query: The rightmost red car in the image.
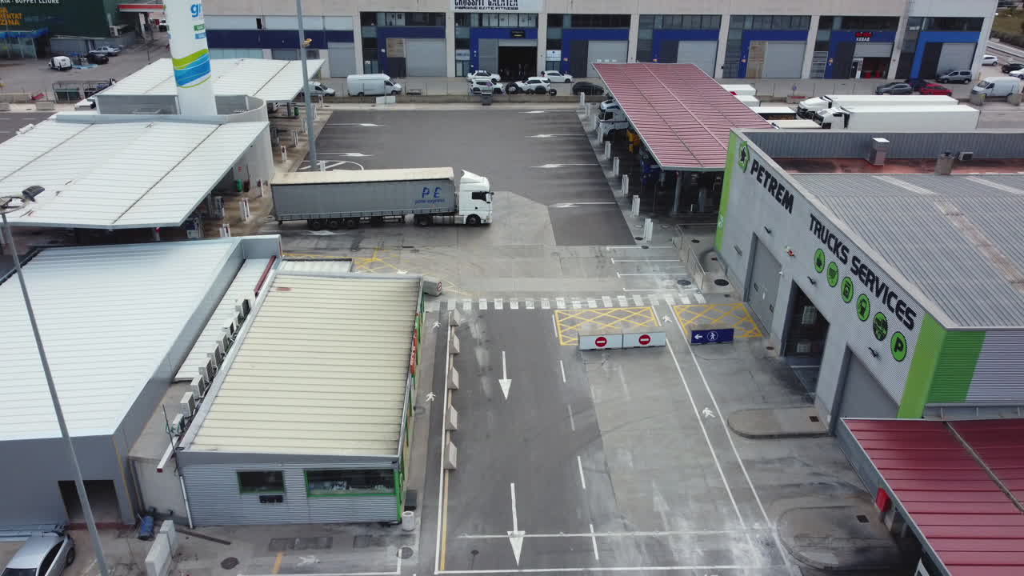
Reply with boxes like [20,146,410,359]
[914,81,951,95]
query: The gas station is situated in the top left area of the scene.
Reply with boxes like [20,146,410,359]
[124,0,164,39]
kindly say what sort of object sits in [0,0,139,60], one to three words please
building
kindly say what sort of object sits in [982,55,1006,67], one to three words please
vehicle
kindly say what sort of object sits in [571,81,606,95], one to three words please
car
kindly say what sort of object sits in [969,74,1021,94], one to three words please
vehicle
